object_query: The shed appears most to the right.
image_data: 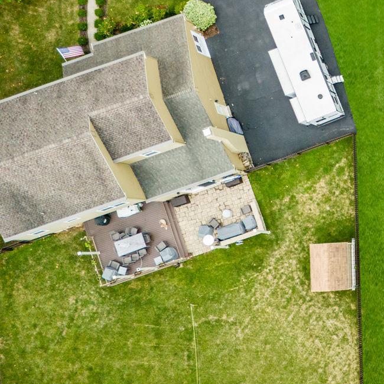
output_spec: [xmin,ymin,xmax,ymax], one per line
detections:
[312,242,359,291]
